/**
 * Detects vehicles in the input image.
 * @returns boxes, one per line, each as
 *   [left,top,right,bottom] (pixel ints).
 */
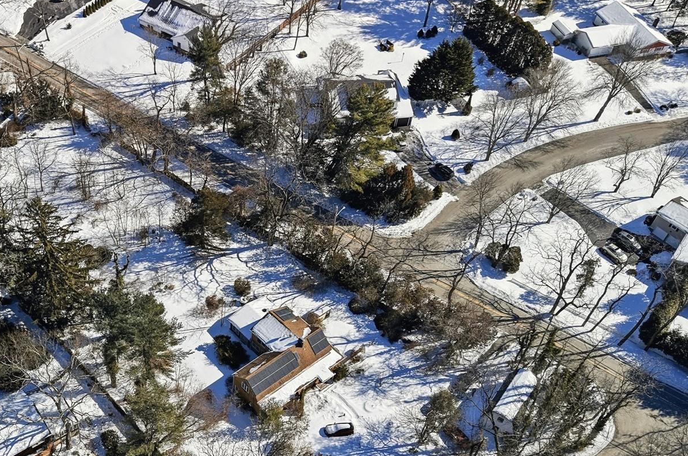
[396,136,413,152]
[324,422,356,438]
[602,239,627,261]
[429,163,454,176]
[620,227,643,249]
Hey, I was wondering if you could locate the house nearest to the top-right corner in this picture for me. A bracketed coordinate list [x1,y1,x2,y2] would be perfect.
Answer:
[569,1,674,65]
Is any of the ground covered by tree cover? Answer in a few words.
Yes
